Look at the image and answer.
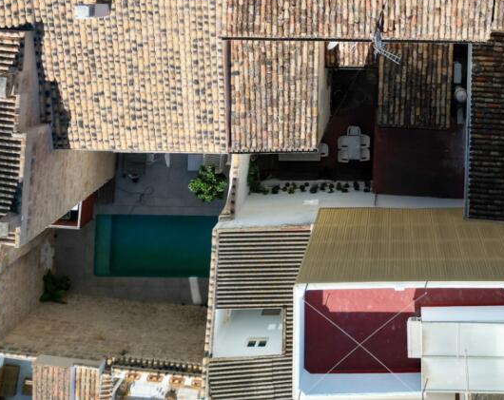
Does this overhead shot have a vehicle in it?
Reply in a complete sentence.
No, there is no vehicle in the image.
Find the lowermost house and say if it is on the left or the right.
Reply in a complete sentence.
The lowermost house sits on the left side.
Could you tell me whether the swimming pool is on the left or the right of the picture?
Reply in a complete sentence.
The swimming pool appears in the left half of the scene.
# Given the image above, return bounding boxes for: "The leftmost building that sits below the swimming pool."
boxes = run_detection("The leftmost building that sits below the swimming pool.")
[32,364,120,400]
